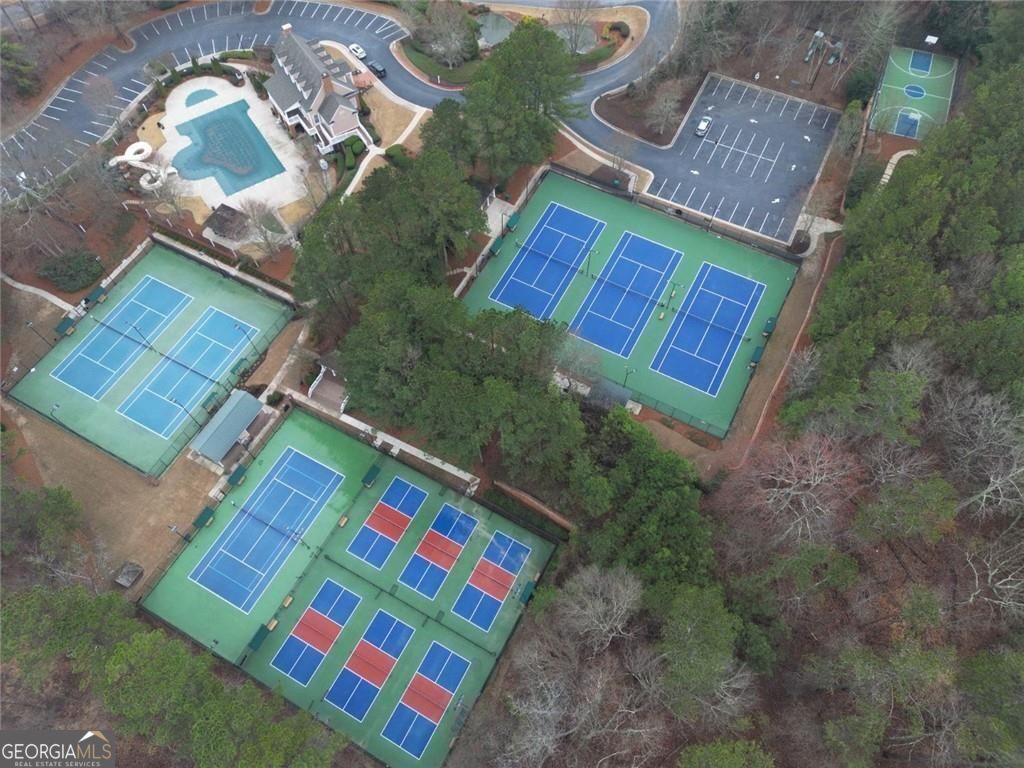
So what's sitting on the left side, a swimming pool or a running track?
swimming pool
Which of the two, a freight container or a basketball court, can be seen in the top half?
basketball court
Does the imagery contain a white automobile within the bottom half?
No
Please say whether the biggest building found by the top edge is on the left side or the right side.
left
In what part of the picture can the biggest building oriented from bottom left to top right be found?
left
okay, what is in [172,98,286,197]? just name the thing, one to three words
swimming pool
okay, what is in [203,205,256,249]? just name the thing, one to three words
shed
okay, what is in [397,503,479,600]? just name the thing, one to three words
sports court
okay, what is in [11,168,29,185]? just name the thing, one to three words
car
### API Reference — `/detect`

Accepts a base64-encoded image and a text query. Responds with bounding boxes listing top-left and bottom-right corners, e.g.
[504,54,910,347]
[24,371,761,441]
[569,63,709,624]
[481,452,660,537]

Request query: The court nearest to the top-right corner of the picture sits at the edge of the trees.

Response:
[870,47,957,142]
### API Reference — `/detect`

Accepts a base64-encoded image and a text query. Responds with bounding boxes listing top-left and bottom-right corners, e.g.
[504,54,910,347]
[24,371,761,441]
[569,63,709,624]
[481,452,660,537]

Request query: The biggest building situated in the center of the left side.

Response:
[189,389,269,473]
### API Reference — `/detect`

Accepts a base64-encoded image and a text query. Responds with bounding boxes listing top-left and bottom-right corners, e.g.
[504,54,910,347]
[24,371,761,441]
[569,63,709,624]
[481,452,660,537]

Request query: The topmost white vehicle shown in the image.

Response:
[347,42,367,57]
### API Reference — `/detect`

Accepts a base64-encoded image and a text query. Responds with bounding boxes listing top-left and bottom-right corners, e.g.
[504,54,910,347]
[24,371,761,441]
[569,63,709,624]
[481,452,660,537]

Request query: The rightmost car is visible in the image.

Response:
[695,115,713,134]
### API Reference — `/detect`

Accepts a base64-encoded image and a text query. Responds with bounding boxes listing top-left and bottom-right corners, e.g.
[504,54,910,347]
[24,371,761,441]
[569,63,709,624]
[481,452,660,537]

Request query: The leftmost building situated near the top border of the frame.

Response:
[260,24,374,160]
